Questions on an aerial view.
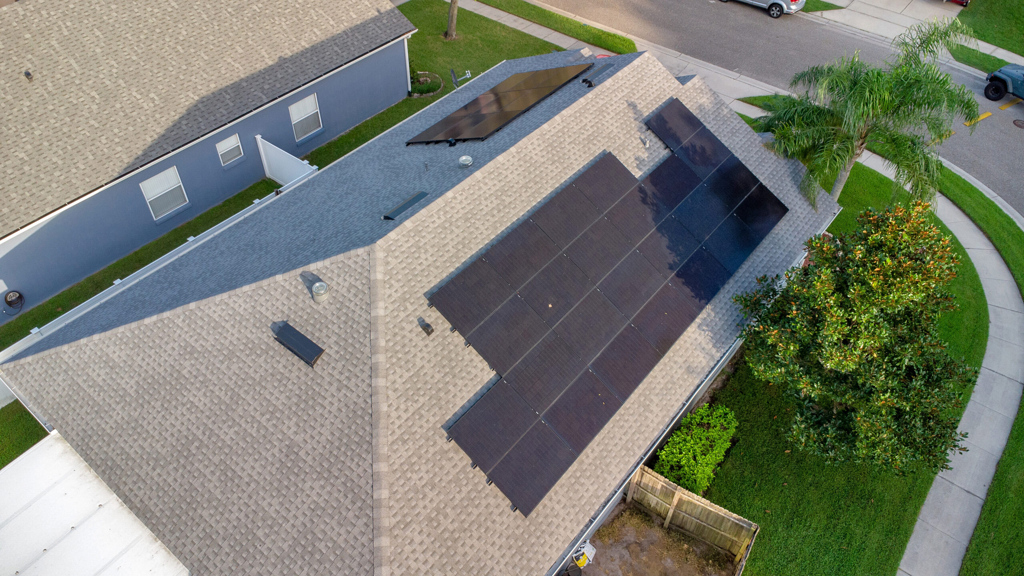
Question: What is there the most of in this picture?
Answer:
buildings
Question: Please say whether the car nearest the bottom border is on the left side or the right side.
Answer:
right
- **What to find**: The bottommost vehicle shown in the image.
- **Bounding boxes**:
[980,62,1024,105]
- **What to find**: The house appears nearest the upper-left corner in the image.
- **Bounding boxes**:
[0,0,424,323]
